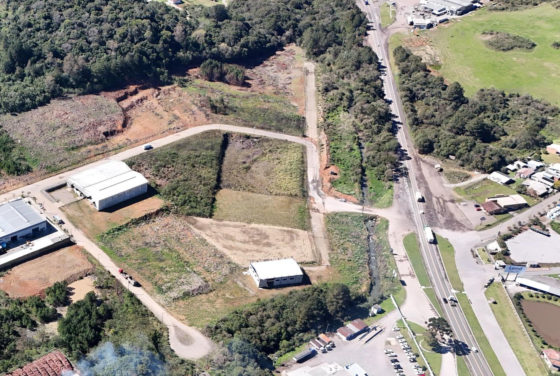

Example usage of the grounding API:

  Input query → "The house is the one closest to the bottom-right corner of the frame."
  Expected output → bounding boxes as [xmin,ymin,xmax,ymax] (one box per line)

[541,347,560,369]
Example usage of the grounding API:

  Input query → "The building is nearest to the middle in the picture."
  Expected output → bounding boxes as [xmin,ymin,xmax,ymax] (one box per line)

[249,257,303,288]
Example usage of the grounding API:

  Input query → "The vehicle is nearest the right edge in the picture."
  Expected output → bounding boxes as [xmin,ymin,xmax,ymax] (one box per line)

[530,224,553,237]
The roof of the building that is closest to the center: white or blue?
white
